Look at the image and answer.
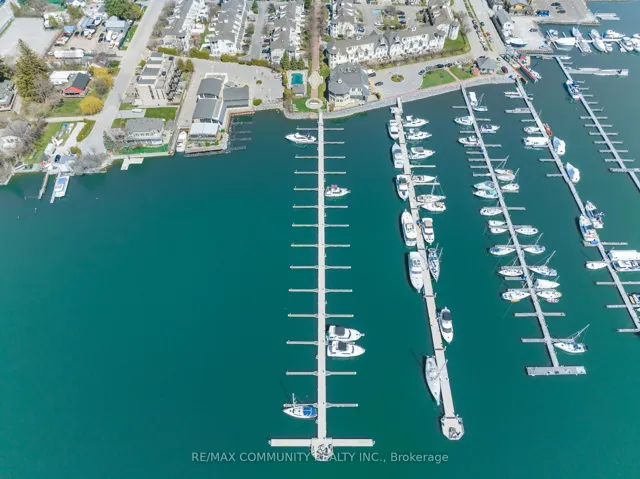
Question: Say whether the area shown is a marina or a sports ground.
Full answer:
What you see here is a marina.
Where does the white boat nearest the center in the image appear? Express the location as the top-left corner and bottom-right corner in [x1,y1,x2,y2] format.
[324,184,350,196]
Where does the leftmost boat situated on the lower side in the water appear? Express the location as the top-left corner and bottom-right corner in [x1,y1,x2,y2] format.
[284,396,317,418]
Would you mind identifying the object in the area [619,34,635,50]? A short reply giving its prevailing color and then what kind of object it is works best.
white boat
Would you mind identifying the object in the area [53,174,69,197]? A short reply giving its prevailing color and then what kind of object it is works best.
white boat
